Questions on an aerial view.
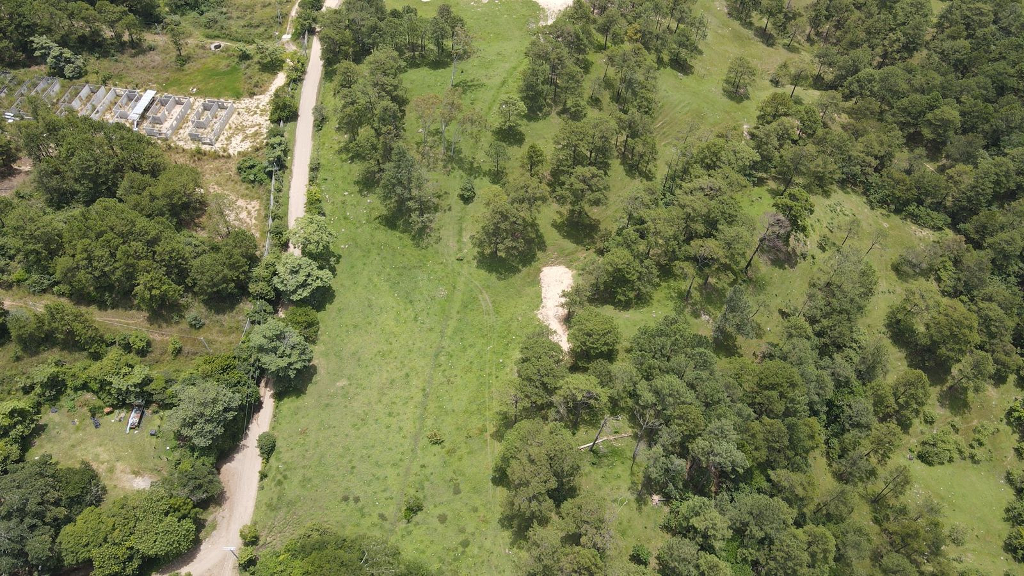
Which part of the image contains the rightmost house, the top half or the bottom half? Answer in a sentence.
You can find the rightmost house in the top half.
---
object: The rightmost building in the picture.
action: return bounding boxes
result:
[188,97,238,140]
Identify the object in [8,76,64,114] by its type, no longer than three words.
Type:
house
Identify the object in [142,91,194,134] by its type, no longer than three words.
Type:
house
